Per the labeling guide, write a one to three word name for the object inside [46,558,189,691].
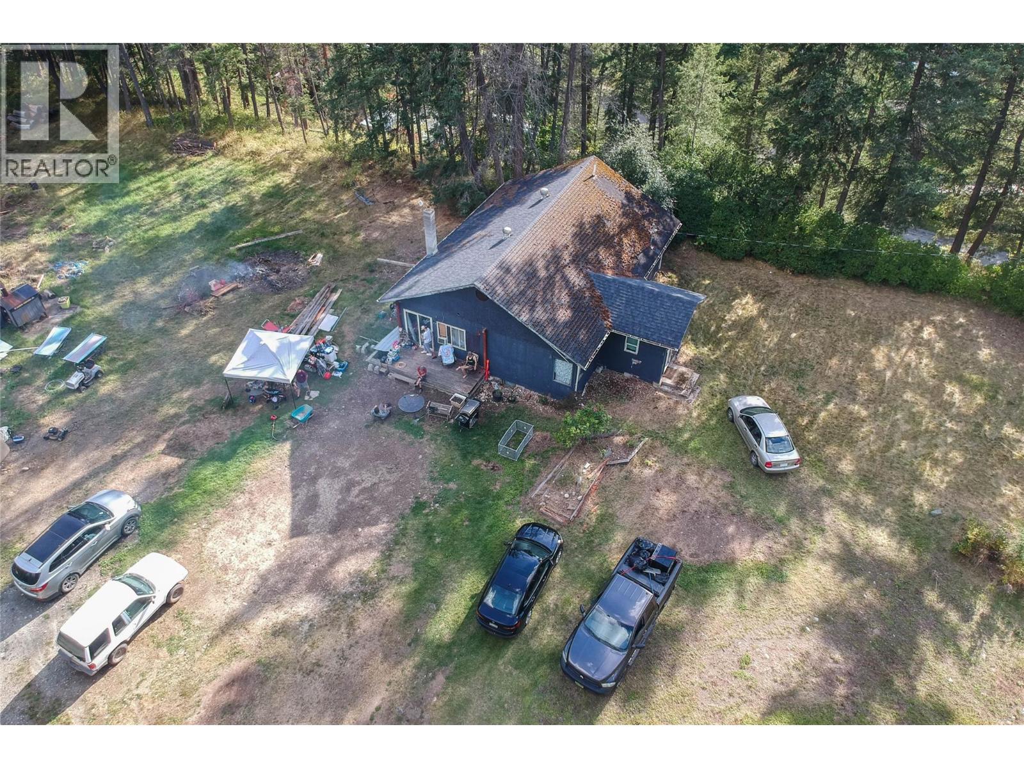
car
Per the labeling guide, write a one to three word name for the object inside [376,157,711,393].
house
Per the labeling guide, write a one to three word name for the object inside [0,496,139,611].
car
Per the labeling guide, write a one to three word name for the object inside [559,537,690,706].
truck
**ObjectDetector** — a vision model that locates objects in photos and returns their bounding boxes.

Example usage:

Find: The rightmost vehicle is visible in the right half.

[727,397,804,478]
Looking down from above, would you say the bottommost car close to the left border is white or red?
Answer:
white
